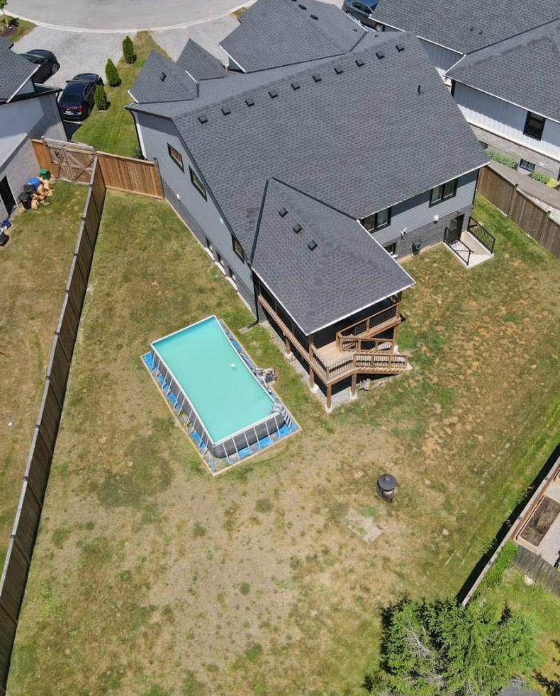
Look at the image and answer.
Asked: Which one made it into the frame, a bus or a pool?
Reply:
pool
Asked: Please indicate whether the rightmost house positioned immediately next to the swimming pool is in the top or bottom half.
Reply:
top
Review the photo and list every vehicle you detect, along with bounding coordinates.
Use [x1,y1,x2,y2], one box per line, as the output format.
[342,0,381,29]
[52,66,101,115]
[27,51,58,84]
